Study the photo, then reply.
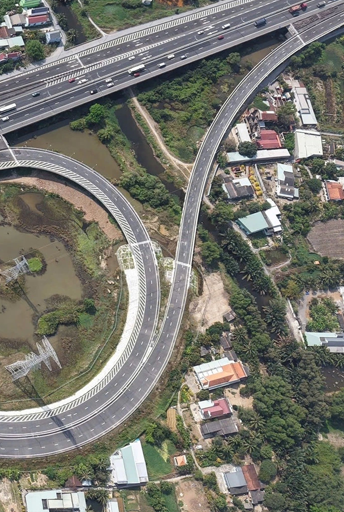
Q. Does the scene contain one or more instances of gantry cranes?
No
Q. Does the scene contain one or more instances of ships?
No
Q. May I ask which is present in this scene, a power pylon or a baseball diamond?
power pylon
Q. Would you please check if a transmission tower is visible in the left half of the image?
Yes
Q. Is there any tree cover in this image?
Yes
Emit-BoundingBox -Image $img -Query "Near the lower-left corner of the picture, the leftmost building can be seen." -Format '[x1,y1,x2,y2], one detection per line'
[24,493,48,512]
